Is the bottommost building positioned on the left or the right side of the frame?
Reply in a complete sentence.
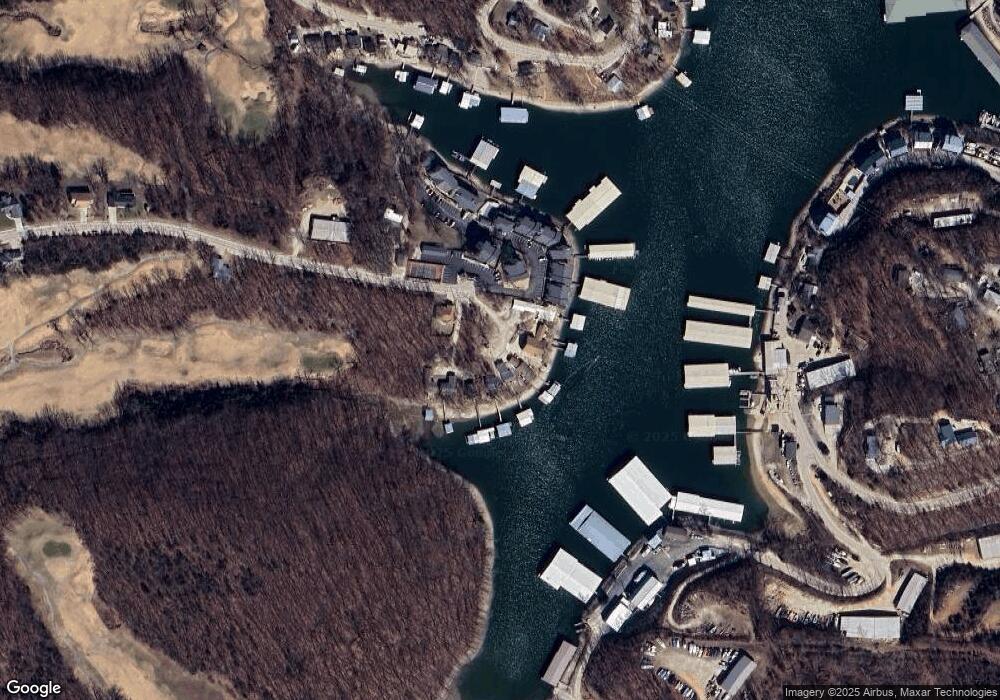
The bottommost building is on the right side of the image.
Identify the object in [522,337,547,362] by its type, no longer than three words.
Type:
house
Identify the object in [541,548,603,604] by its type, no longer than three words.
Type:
pier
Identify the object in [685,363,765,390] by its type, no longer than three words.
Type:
pier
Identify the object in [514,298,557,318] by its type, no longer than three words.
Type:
building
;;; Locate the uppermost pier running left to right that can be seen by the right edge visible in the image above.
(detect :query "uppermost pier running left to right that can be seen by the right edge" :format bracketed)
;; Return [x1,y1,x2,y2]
[885,0,967,22]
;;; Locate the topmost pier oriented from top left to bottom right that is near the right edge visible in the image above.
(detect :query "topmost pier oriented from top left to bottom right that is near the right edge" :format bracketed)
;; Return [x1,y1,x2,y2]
[961,19,1000,84]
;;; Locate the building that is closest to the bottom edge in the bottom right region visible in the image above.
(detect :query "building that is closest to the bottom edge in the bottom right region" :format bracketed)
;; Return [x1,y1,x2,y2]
[720,655,758,699]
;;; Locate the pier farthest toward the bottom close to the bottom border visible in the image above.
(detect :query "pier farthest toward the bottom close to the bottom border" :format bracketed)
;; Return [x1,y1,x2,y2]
[542,639,577,686]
